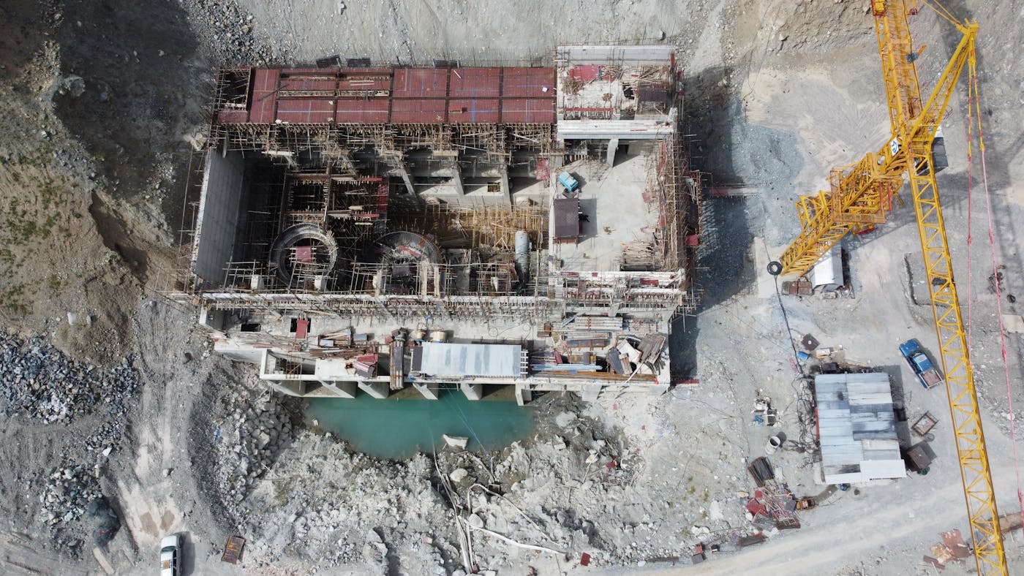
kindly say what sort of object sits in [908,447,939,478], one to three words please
shed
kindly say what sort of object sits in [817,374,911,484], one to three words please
shed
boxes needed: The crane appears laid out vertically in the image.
[774,0,1024,576]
